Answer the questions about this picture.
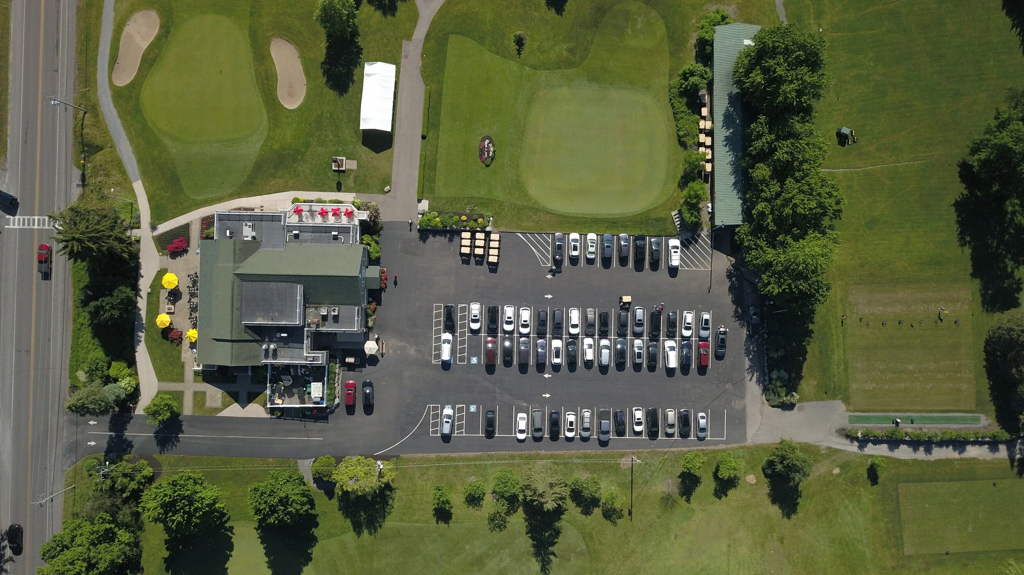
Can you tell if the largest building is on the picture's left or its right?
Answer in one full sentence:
The largest building sits on the left side.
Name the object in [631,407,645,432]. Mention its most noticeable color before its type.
white car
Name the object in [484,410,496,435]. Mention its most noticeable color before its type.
black vehicle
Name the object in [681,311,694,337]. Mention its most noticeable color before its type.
white vehicle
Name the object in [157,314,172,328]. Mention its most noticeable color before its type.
yellow umbrella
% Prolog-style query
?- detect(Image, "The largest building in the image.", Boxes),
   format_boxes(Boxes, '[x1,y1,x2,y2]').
[192,203,381,374]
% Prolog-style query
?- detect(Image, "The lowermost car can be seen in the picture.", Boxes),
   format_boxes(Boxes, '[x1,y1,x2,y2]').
[8,523,24,552]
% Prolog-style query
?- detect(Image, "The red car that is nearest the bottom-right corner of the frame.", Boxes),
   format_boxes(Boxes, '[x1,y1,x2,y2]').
[697,342,711,366]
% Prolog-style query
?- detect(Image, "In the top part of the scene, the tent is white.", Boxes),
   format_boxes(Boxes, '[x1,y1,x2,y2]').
[360,61,398,133]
